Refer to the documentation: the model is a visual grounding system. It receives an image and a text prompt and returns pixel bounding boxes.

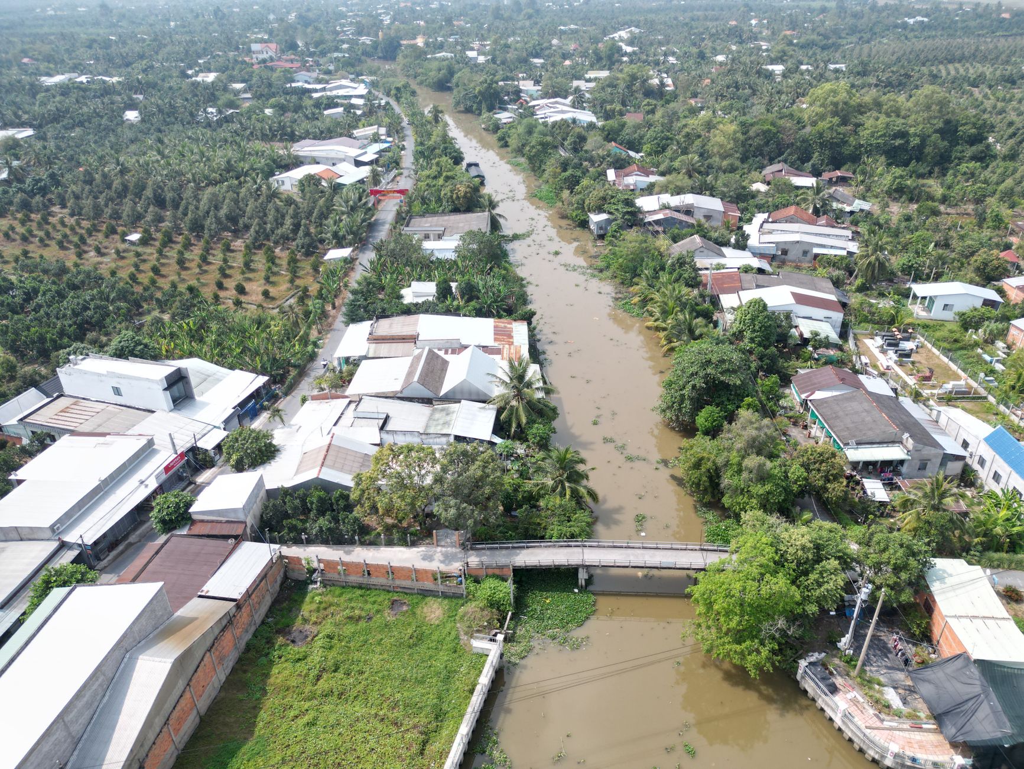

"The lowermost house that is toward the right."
[915,558,1024,668]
